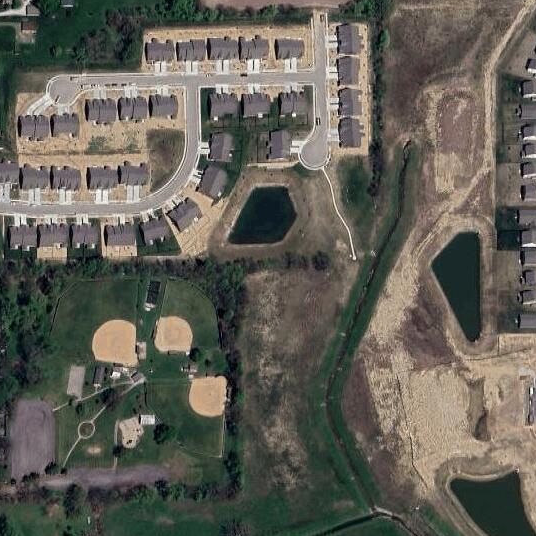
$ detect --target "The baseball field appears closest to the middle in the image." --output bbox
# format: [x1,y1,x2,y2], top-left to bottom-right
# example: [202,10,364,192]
[153,278,223,355]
